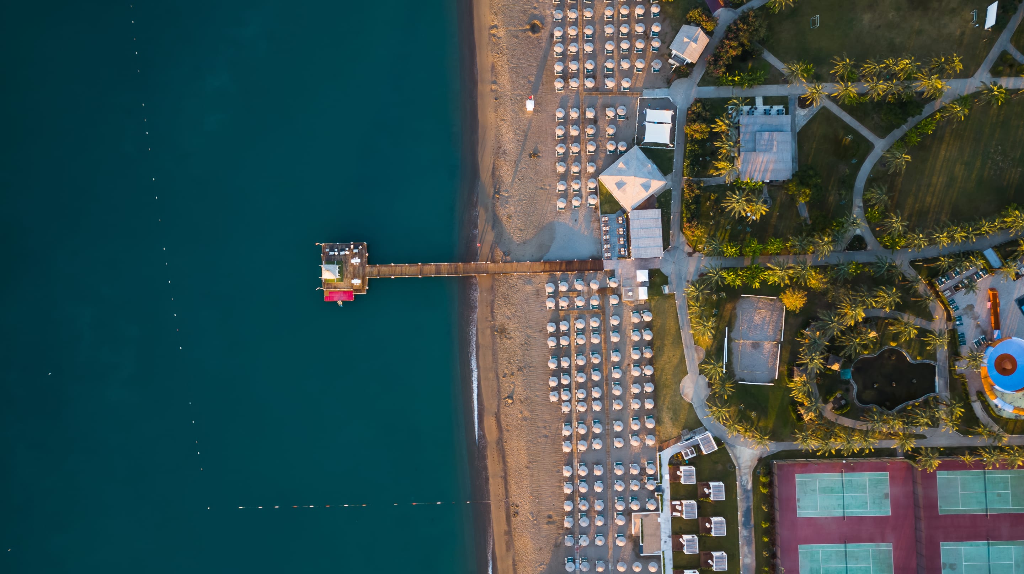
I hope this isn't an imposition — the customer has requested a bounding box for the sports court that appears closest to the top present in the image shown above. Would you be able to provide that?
[731,297,785,383]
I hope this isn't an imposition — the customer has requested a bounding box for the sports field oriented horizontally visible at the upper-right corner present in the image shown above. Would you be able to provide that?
[751,0,1005,83]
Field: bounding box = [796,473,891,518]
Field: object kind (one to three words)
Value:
tennis court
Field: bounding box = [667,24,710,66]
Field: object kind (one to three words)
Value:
shed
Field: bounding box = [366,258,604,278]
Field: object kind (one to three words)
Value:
pier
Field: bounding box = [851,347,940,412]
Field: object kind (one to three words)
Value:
pond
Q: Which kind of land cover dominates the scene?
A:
water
